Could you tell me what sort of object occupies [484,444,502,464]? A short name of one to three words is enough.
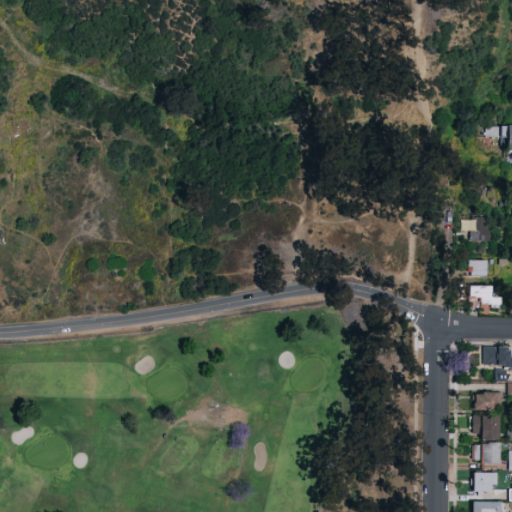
house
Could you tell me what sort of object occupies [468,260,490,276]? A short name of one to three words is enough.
house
